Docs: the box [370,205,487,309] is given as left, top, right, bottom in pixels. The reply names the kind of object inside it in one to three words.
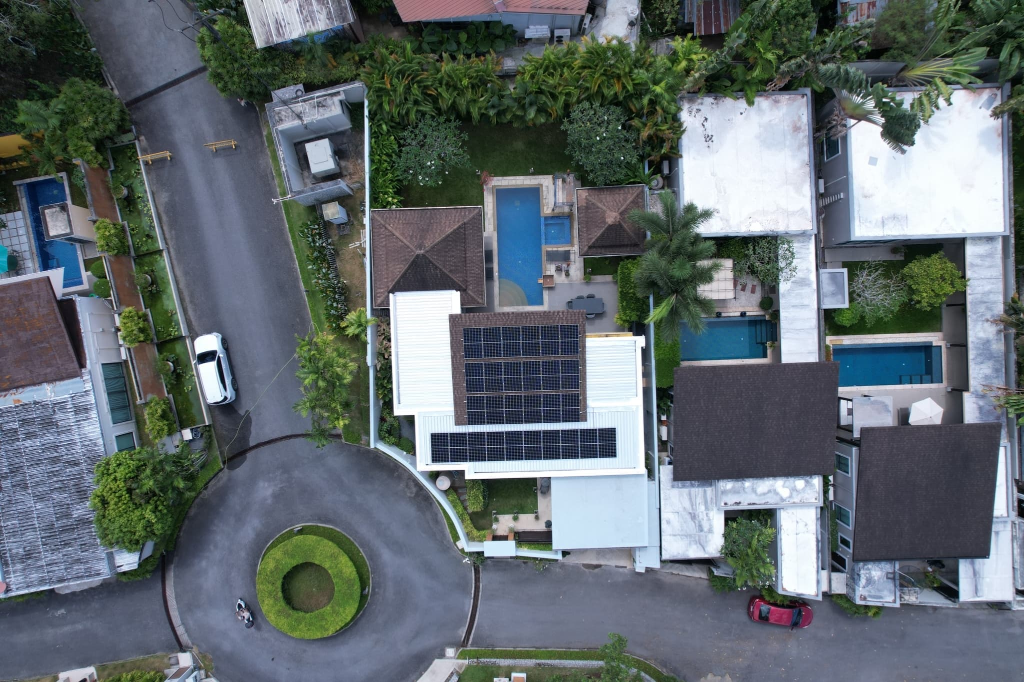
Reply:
building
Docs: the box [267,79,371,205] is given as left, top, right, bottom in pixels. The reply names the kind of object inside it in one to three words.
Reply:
building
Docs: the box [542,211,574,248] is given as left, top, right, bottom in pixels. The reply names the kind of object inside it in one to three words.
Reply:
swimming pool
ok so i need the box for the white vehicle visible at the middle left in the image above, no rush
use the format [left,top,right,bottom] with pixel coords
[196,335,239,406]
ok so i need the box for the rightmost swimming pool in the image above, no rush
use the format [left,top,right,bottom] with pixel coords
[829,338,947,390]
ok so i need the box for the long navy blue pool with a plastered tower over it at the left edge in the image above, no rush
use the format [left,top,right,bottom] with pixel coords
[19,171,87,293]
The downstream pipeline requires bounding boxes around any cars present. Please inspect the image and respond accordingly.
[196,335,239,406]
[746,595,812,632]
